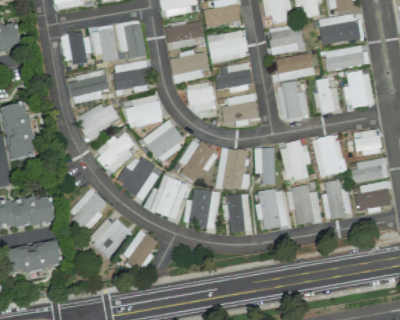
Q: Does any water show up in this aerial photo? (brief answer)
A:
No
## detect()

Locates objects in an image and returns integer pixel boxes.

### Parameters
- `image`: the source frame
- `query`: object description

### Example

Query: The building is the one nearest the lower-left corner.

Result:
[10,242,62,272]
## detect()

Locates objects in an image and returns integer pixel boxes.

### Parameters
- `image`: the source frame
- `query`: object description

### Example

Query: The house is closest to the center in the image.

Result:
[181,140,222,188]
